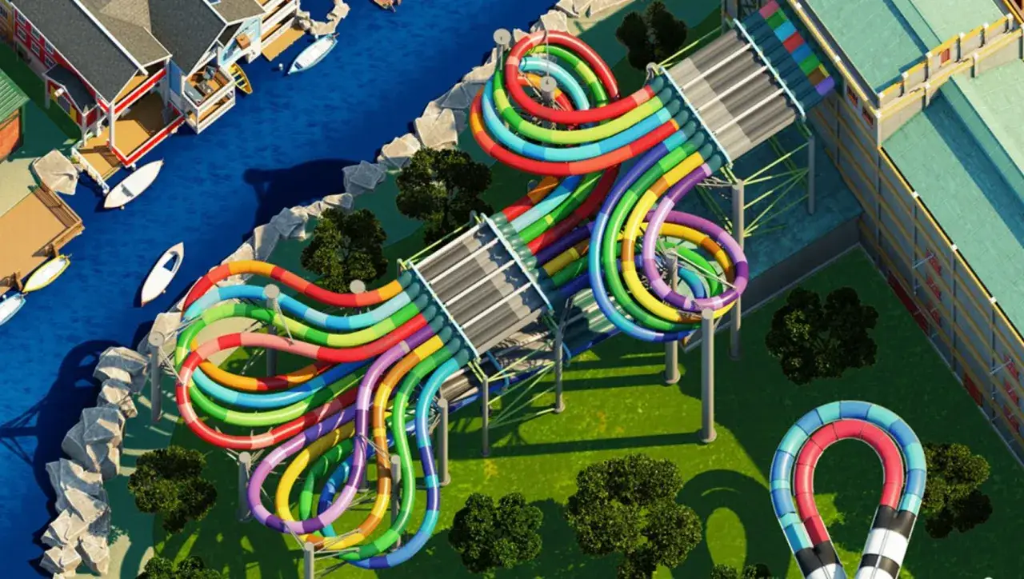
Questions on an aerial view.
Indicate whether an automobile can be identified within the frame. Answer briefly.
No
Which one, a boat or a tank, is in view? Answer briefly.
boat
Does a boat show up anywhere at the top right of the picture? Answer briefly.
No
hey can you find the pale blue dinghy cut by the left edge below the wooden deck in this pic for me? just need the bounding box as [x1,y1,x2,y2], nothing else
[0,289,27,321]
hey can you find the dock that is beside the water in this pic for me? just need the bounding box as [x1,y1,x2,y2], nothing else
[262,15,312,67]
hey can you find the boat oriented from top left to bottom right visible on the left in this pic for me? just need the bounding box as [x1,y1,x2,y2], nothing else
[229,60,255,95]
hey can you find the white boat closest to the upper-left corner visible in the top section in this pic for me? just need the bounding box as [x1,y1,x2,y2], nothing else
[104,157,163,208]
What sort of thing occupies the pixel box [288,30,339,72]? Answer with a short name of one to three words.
boat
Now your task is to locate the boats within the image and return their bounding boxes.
[0,289,27,321]
[22,251,72,290]
[104,157,163,208]
[373,0,398,8]
[141,239,184,304]
[288,30,339,72]
[229,60,255,95]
